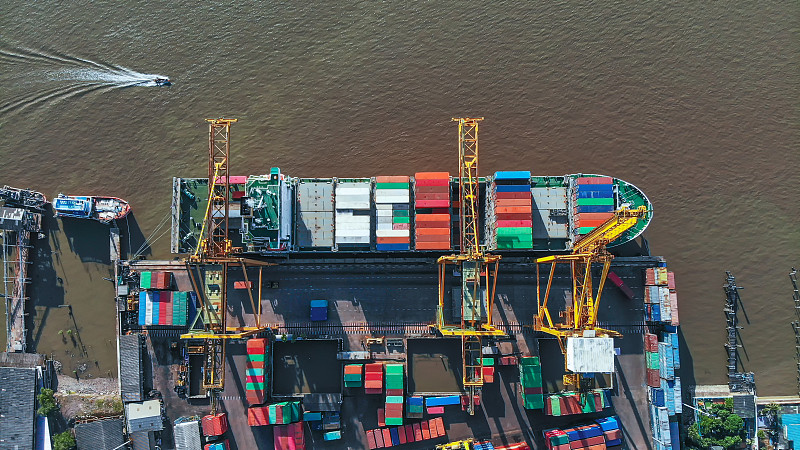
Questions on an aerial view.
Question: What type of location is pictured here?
port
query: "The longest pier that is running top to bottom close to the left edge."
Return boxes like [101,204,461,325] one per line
[1,232,30,352]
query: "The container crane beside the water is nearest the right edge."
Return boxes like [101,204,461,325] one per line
[521,212,657,388]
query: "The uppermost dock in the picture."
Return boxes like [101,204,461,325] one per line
[109,228,123,259]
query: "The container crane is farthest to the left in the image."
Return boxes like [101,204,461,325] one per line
[181,114,279,417]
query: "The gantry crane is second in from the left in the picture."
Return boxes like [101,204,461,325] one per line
[428,114,508,417]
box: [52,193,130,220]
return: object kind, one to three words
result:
boat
